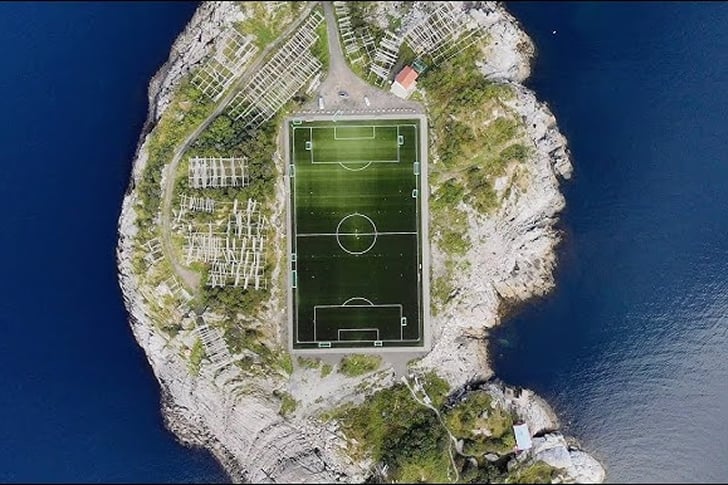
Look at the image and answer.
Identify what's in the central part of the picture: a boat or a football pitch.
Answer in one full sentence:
The feature located in the central part of the picture is a football pitch.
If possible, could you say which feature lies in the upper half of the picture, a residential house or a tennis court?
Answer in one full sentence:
The one visible in the upper half of the picture is a residential house.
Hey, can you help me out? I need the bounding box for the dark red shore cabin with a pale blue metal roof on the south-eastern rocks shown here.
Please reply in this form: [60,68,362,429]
[513,421,531,450]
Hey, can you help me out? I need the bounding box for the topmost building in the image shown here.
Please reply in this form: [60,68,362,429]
[390,64,419,97]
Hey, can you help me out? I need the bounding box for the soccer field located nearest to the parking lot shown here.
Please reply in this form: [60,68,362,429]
[284,114,431,353]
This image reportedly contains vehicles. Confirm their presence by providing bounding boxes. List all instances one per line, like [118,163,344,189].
[318,96,324,109]
[363,96,370,106]
[338,91,348,97]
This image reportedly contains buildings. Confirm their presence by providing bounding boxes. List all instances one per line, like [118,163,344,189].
[390,64,419,97]
[513,421,531,450]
